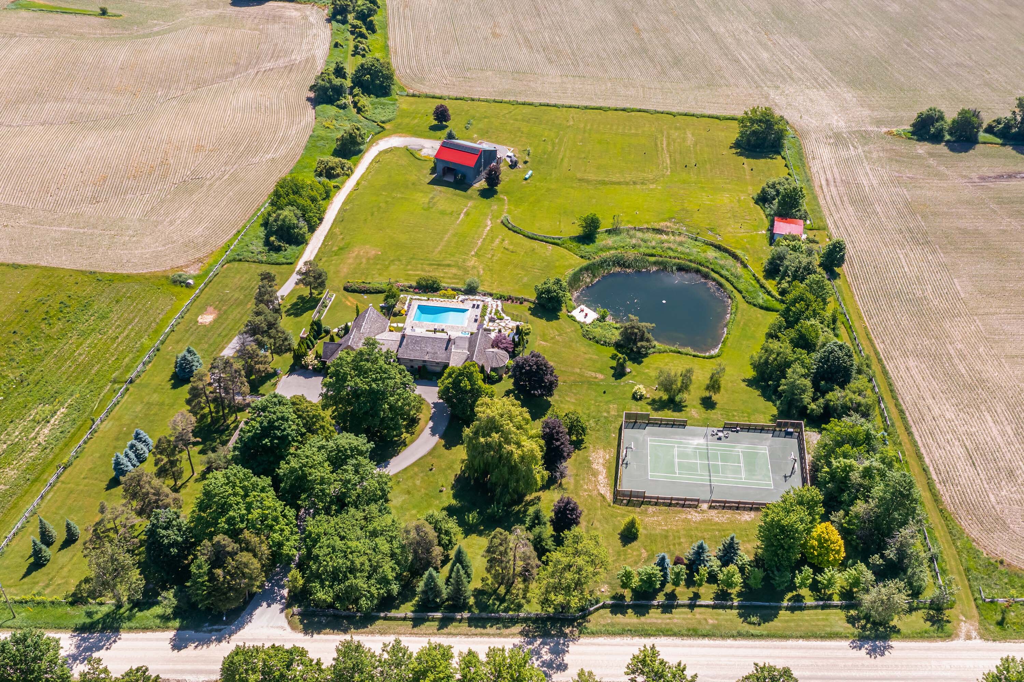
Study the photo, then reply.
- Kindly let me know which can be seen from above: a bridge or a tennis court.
tennis court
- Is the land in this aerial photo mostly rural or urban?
rural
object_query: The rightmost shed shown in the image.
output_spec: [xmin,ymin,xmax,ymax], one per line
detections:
[771,219,806,240]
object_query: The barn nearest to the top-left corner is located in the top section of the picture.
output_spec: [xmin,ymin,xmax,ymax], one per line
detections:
[433,139,494,183]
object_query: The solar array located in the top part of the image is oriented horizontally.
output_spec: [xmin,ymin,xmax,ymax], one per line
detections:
[441,139,481,156]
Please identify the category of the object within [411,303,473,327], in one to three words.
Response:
swimming pool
